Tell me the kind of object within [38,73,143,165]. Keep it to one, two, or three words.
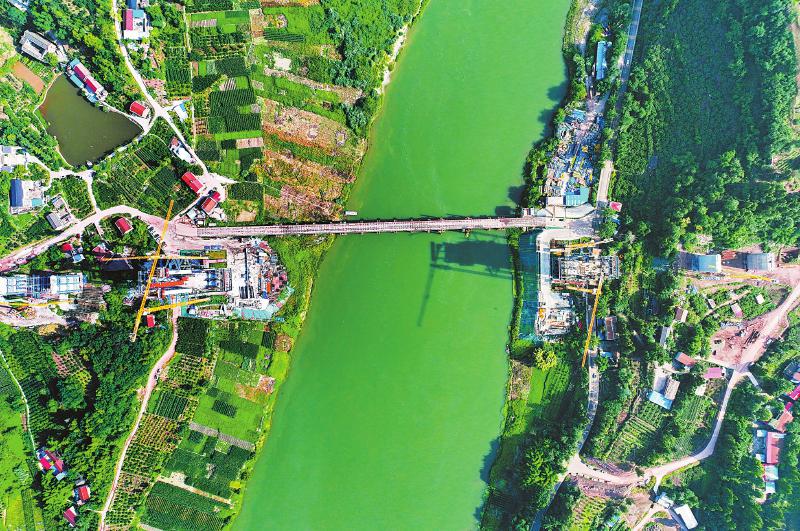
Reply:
pond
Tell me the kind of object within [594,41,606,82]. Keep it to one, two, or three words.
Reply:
shed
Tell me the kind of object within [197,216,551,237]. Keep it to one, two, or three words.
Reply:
bridge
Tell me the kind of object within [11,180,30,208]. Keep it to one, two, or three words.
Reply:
house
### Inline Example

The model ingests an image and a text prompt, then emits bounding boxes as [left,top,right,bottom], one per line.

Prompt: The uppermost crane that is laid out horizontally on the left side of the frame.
[100,250,213,263]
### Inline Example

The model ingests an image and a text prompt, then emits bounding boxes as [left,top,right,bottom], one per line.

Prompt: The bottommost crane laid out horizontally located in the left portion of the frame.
[0,294,79,330]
